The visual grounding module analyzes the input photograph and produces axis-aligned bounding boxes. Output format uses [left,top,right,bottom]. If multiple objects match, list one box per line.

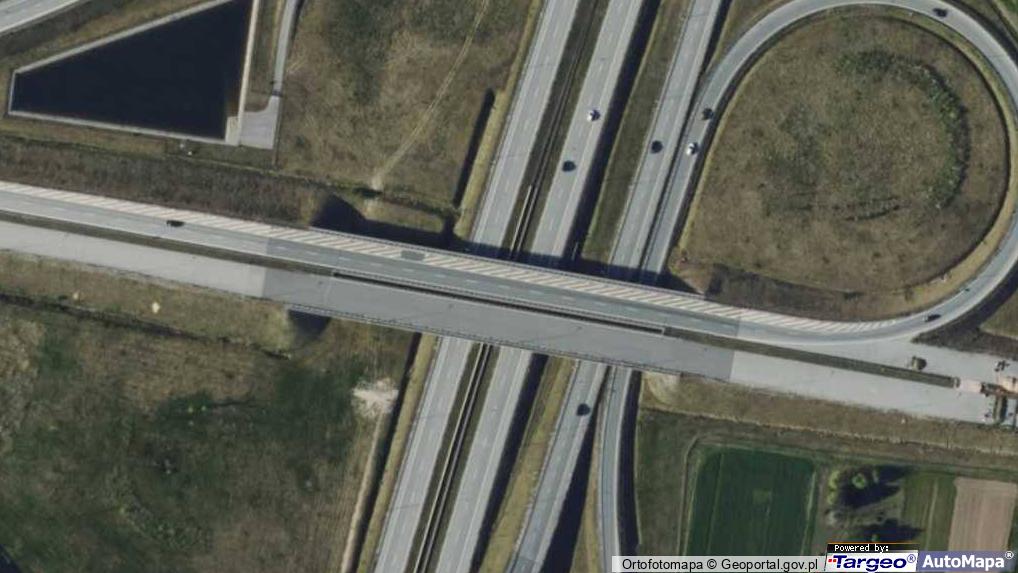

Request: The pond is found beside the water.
[9,0,258,147]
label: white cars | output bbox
[587,111,594,122]
[687,144,694,156]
